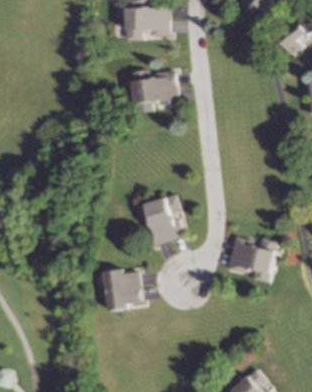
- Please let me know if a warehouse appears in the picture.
No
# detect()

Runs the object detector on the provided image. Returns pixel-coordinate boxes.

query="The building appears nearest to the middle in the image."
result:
[143,194,188,245]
